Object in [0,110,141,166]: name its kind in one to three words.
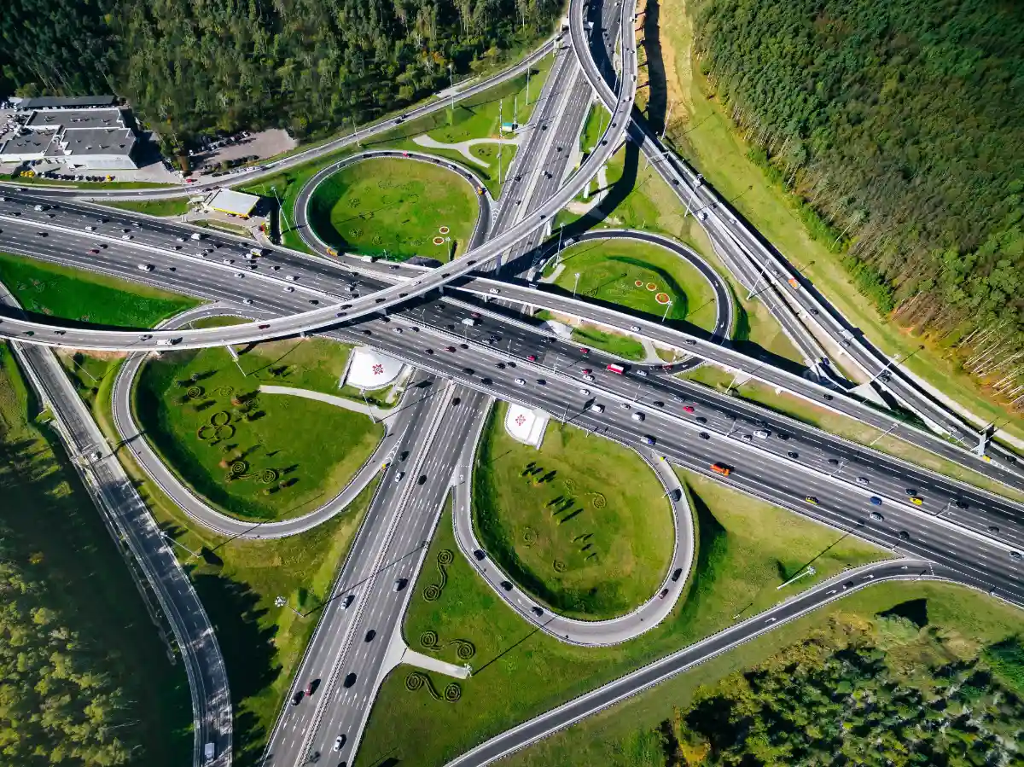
building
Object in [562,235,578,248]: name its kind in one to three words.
vehicle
